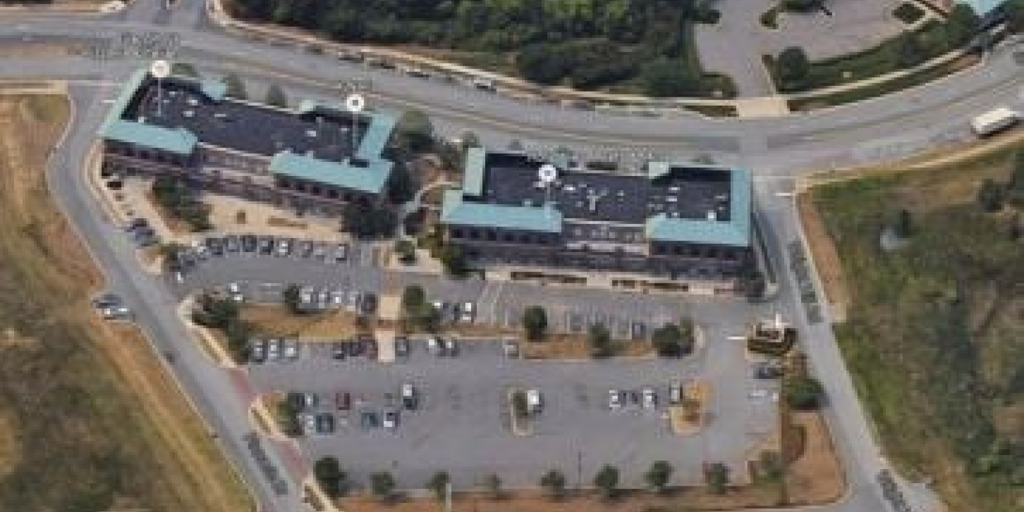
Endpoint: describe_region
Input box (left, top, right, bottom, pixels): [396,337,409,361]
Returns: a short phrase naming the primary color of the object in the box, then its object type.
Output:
gray vehicle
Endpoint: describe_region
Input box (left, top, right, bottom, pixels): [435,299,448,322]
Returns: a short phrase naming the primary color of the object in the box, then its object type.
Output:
gray vehicle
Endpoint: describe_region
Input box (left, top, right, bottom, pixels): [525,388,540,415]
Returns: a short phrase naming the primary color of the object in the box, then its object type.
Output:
white vehicle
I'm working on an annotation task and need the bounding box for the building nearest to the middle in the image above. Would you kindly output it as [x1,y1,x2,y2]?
[442,146,751,283]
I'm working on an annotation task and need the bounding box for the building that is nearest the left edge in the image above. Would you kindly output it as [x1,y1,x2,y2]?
[102,69,404,220]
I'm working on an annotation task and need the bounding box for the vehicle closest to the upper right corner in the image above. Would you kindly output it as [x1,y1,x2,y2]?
[973,107,1018,135]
